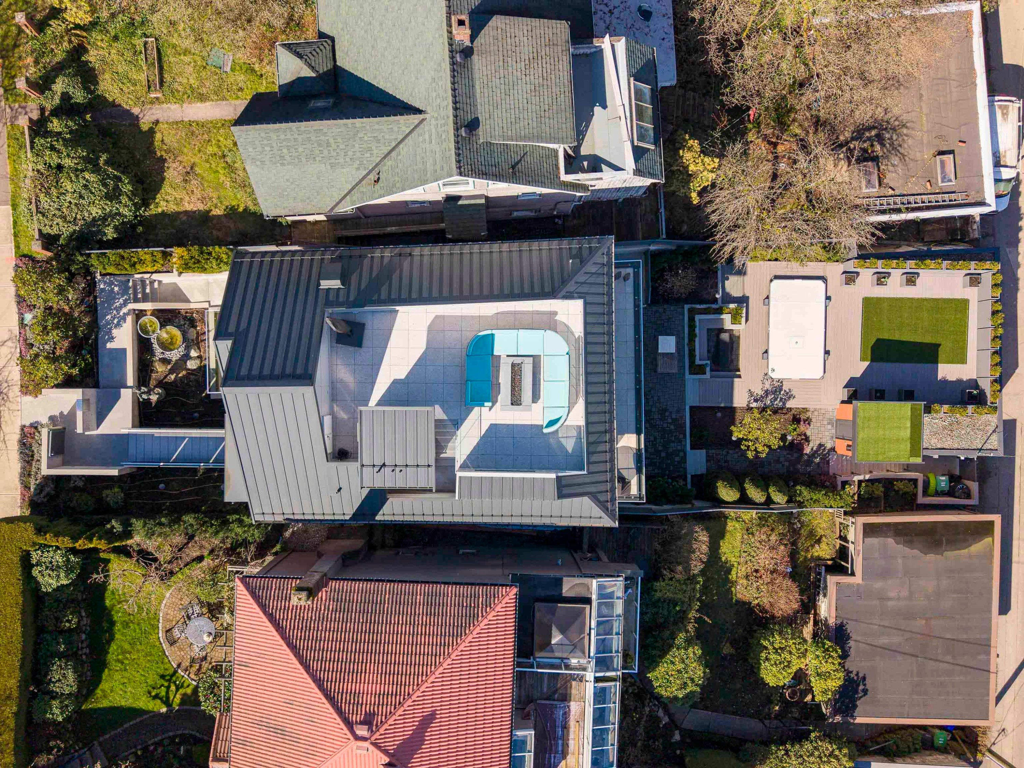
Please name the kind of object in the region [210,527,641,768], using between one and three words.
house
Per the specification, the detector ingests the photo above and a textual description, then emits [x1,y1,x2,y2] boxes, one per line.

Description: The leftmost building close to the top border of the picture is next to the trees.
[231,0,676,239]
